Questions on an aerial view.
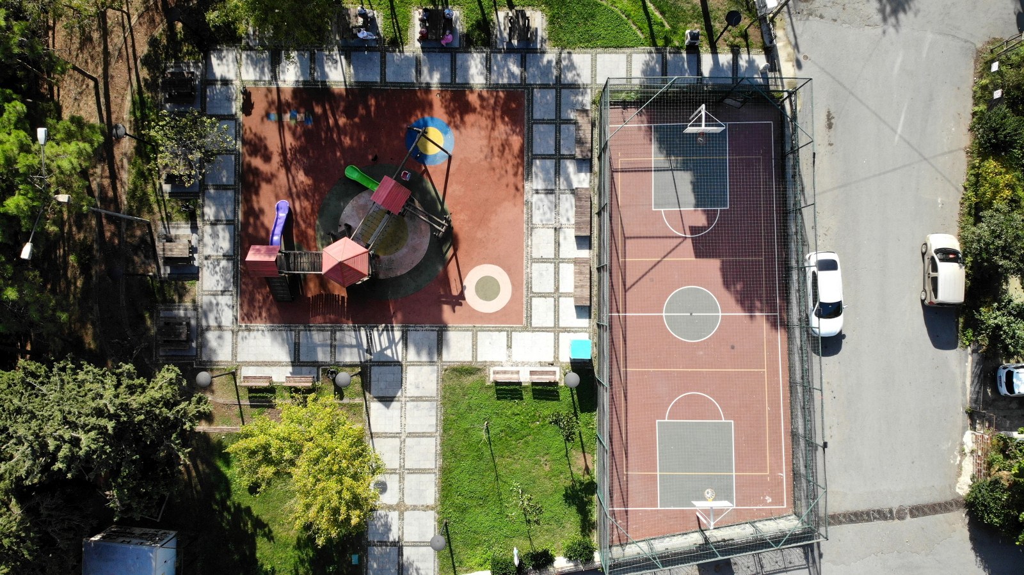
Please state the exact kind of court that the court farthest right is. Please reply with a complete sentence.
It turns out the court farthest right is a basketball court.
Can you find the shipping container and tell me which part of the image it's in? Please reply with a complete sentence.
Look in the bottom left portion of the view to spot the shipping container.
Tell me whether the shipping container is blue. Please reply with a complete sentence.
Yes, the shipping container appears blue.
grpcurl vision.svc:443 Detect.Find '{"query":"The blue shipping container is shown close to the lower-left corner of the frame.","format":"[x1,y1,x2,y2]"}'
[82,526,180,575]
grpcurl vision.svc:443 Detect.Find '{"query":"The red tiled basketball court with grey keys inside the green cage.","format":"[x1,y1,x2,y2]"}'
[607,103,794,544]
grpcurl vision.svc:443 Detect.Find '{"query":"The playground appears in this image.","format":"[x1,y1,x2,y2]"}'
[236,86,527,331]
